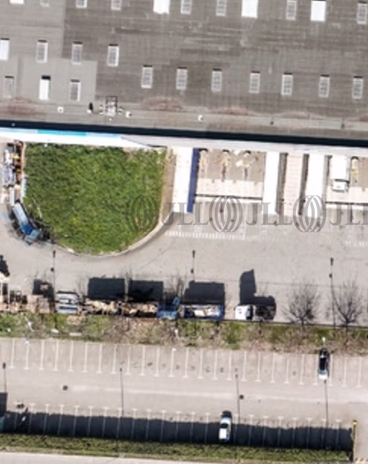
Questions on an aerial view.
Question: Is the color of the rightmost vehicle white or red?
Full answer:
In this view, the rightmost vehicle is white.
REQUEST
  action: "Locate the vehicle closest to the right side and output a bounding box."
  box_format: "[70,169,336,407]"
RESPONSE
[331,158,351,195]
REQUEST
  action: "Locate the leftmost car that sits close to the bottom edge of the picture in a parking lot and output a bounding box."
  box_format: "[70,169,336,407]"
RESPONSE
[219,416,233,445]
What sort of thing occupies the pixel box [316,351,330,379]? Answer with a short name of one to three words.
car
